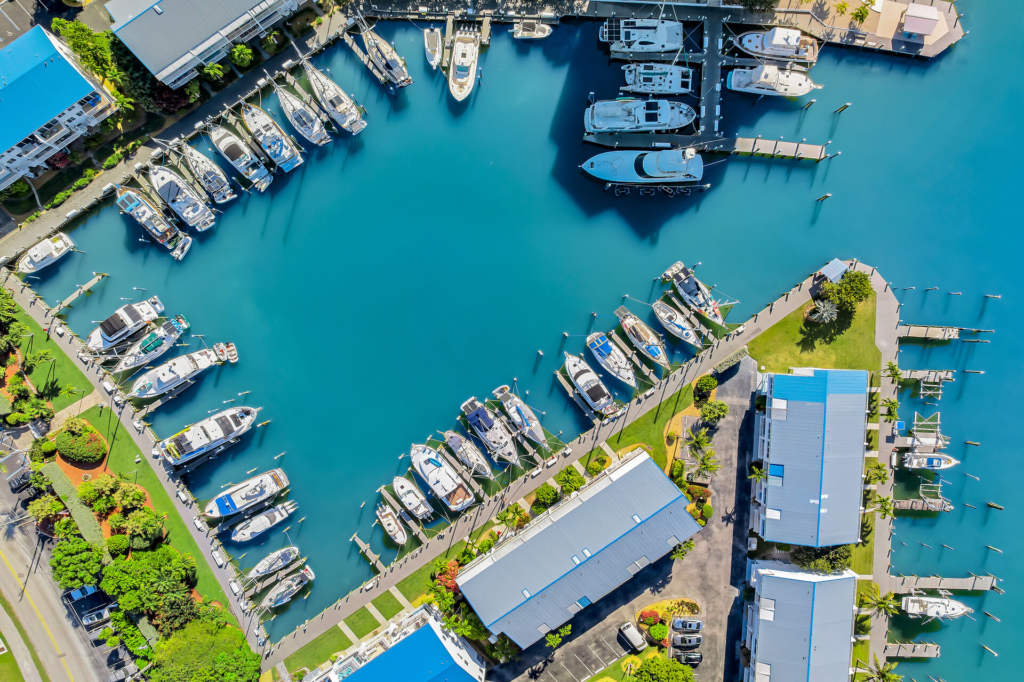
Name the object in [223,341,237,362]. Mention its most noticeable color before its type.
white boat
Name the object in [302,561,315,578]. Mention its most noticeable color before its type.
white boat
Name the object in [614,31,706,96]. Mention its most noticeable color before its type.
blue boat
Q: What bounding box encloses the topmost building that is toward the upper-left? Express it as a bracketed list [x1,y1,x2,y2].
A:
[103,0,326,95]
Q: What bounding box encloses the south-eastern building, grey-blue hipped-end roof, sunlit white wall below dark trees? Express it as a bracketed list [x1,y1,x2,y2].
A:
[739,553,855,682]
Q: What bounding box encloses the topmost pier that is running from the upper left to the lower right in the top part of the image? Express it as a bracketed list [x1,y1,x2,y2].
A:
[342,31,387,82]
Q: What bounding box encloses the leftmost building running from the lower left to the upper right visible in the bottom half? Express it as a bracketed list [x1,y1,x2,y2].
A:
[459,450,702,650]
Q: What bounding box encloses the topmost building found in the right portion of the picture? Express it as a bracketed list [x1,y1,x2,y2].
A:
[896,2,938,40]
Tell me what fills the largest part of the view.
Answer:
water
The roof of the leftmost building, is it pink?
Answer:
No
